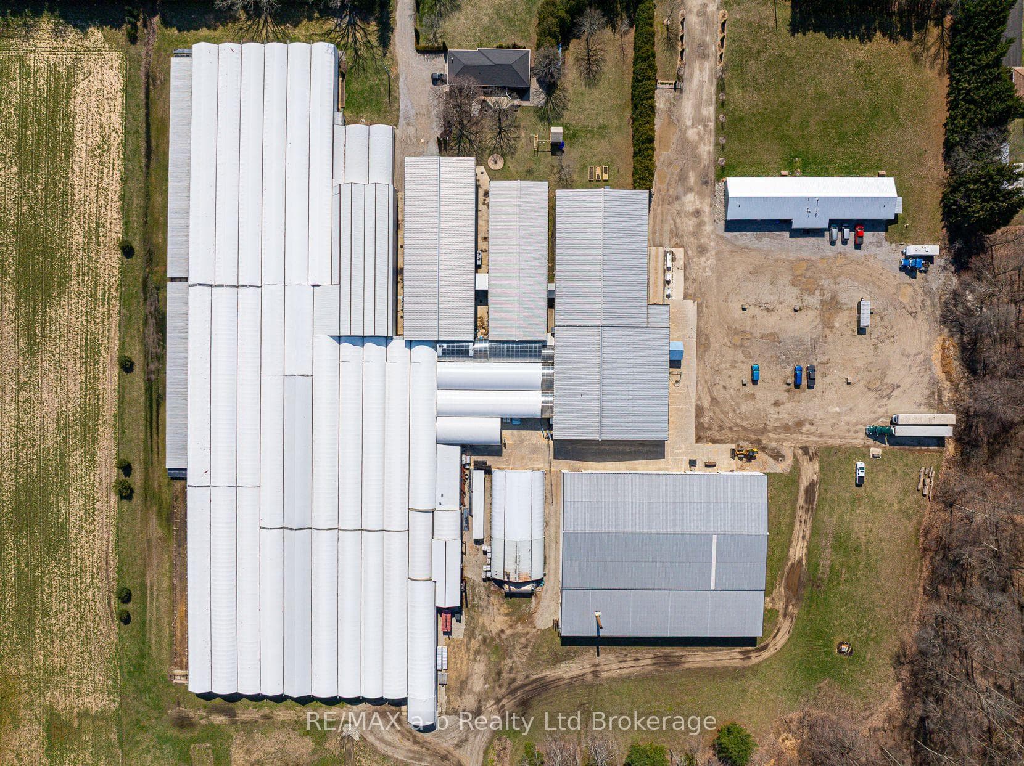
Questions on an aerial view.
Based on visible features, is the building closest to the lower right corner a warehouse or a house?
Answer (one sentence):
What you see as the building closest to the lower right corner is a warehouse.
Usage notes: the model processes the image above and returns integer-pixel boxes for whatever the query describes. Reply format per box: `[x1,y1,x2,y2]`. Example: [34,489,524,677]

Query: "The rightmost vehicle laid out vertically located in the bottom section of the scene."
[854,461,866,485]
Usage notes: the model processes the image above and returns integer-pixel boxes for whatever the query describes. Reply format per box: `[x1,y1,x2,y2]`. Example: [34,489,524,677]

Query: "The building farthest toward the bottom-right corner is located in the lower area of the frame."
[562,470,769,637]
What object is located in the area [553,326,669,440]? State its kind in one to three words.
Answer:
building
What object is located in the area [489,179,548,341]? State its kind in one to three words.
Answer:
shed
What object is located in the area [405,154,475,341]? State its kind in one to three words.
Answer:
shed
